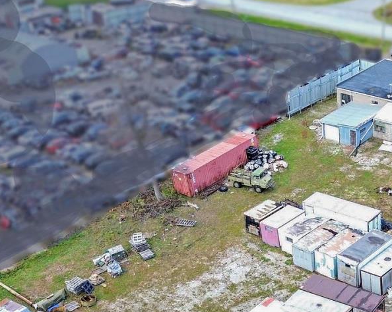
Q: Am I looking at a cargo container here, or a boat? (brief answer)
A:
cargo container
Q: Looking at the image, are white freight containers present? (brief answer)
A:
No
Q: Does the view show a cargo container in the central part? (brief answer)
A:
Yes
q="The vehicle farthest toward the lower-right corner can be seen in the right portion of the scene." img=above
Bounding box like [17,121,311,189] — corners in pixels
[229,168,273,193]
